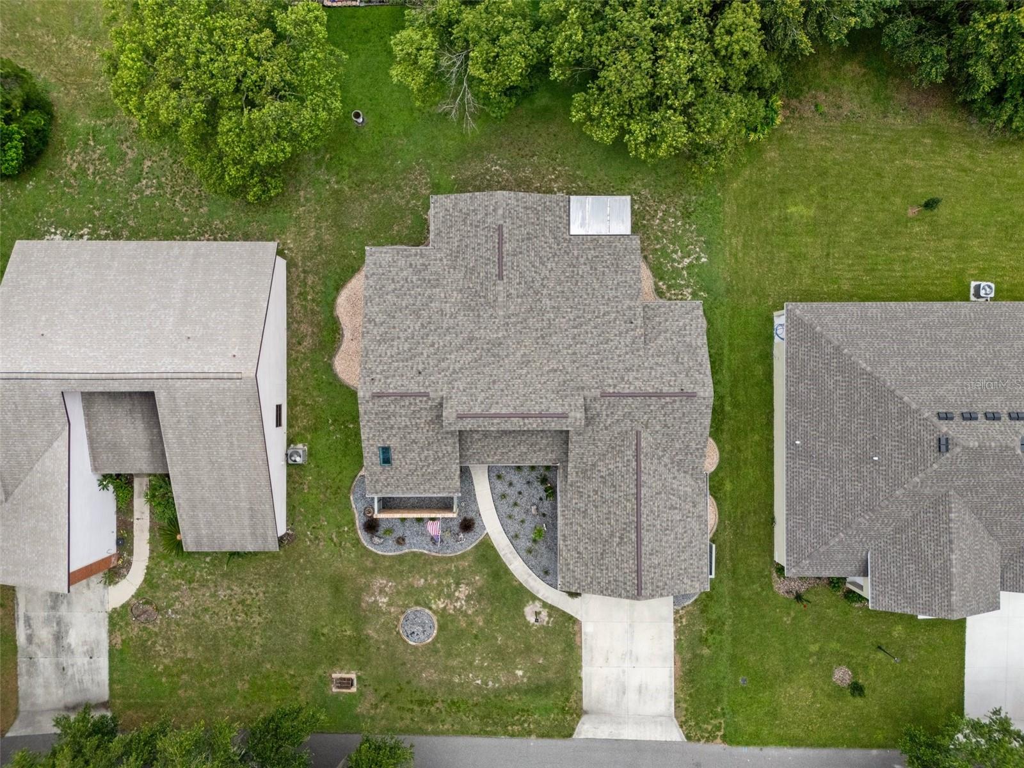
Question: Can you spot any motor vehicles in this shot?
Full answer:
No, I can't see a single motor vehicle in this photo.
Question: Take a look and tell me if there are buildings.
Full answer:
Yes, there is a building in the image.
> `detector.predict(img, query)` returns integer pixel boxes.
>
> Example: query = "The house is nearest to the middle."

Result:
[357,191,713,599]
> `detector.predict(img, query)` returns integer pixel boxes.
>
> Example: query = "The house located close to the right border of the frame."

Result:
[774,301,1024,619]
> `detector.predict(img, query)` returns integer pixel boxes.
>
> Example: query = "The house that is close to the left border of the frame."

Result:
[0,239,288,592]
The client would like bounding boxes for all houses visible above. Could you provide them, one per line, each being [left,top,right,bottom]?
[357,191,713,599]
[0,239,288,592]
[774,301,1024,619]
